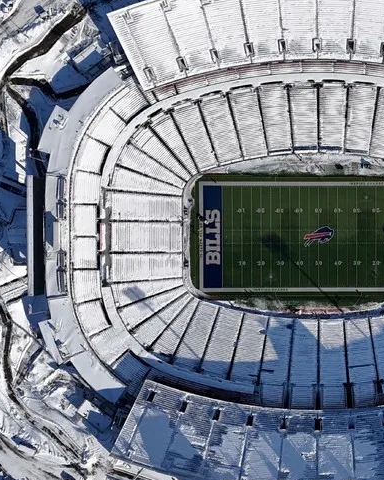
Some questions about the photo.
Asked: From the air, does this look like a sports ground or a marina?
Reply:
sports ground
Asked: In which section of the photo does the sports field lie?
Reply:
right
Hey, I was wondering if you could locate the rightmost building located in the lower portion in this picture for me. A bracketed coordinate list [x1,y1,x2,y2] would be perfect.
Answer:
[78,398,114,426]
